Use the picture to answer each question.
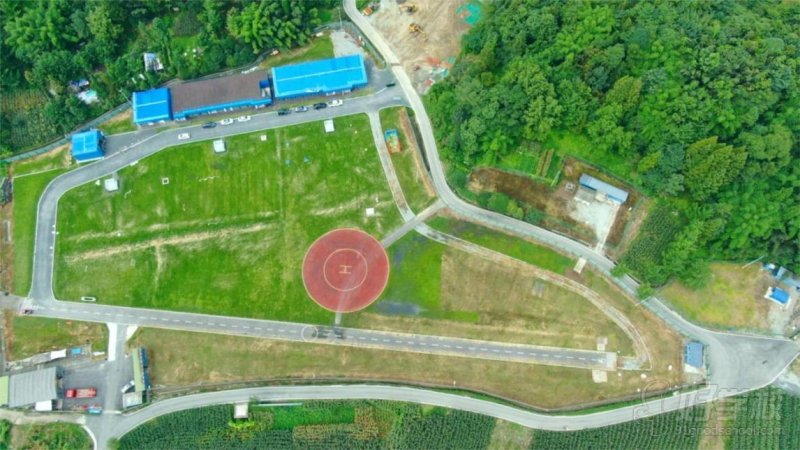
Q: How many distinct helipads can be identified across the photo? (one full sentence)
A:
Altogether the scene contains 1 helipad.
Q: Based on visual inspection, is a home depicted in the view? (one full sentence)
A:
Yes, the picture does show a home.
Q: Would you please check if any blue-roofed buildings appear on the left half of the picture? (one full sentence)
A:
Yes, there is a blue-roofed building on the left half of the picture.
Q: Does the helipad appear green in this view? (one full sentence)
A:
No, the color of the helipad is red.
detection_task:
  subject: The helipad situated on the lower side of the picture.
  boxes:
[302,230,389,313]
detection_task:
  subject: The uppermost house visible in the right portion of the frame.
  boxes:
[574,173,627,209]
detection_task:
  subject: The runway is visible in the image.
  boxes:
[22,297,616,383]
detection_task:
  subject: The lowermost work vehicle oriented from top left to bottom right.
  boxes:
[408,20,425,36]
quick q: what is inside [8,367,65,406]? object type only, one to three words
building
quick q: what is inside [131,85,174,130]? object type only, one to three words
building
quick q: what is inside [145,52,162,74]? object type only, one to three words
house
